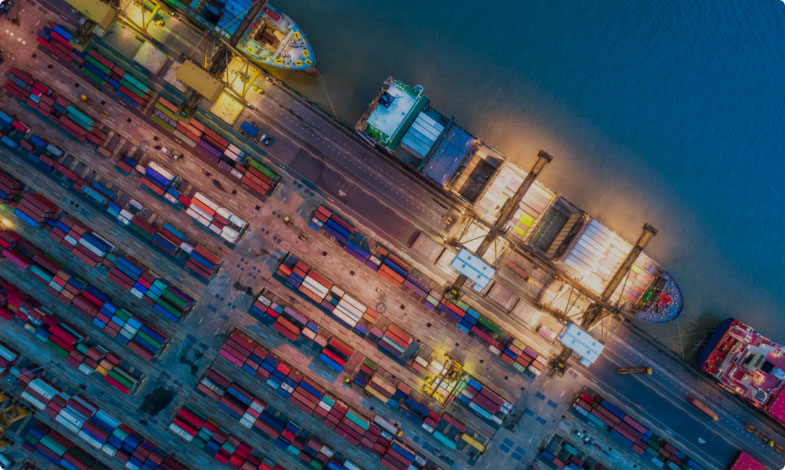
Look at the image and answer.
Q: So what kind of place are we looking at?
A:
port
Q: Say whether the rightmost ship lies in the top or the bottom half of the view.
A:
bottom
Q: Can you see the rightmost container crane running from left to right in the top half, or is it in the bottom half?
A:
top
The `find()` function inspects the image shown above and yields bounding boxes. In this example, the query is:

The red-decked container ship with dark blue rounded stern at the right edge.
[697,318,785,425]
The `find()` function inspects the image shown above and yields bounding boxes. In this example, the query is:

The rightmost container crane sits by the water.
[533,219,656,368]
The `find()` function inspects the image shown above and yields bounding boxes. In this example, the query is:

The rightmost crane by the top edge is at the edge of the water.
[181,0,278,120]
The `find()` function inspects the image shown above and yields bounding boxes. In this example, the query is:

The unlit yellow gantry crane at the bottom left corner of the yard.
[0,394,44,452]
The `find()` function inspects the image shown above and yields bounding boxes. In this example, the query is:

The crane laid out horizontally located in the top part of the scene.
[70,0,182,51]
